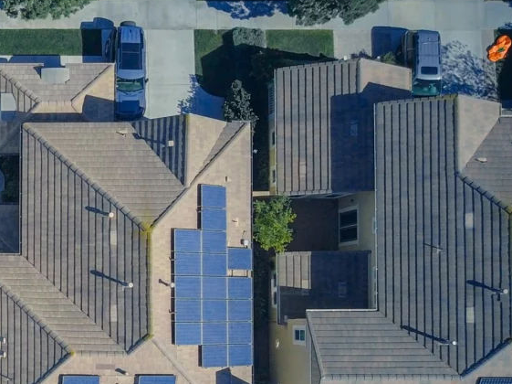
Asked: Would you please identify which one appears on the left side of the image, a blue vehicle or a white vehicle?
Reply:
blue vehicle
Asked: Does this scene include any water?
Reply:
No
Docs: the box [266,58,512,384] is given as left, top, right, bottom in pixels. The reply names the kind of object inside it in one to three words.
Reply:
house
